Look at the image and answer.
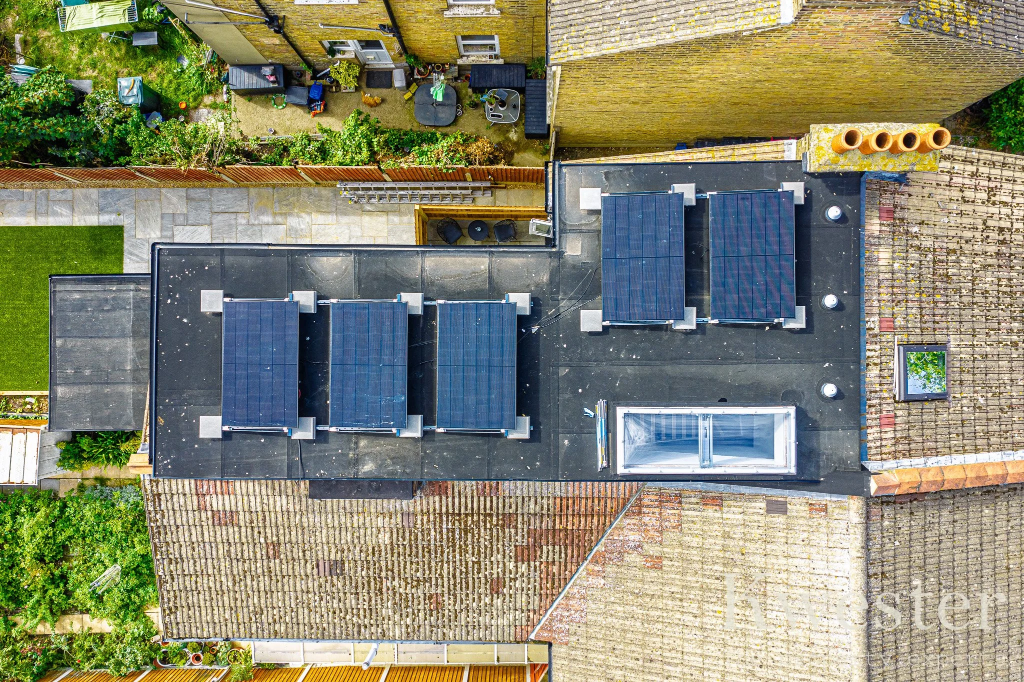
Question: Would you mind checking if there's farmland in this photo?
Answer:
No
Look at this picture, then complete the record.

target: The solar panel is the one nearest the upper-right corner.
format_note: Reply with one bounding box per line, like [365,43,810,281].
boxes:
[708,187,796,324]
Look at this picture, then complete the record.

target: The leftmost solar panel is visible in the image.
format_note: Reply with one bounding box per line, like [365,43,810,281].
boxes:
[221,296,302,433]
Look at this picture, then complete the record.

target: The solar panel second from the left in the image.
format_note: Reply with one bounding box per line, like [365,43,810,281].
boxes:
[329,297,409,433]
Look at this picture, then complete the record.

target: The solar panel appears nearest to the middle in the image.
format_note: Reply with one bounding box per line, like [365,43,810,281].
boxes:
[436,298,518,434]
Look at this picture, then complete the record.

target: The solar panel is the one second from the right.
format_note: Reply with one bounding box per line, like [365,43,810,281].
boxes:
[601,188,685,326]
